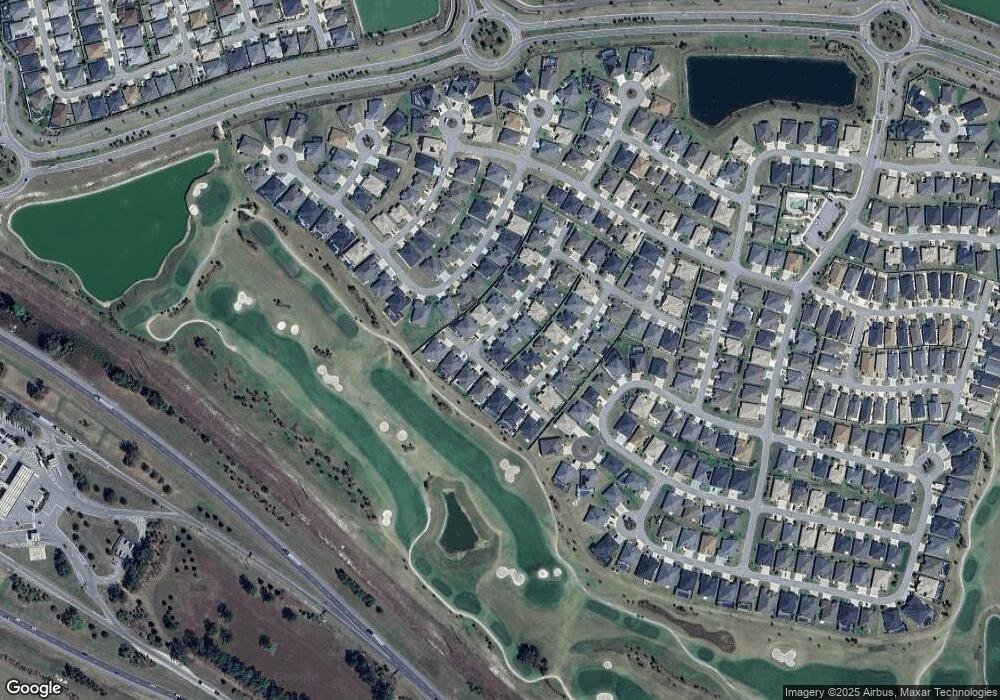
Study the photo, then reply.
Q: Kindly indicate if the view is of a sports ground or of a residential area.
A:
residential area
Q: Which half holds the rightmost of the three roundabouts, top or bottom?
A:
top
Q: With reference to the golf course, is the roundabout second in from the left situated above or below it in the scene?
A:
above it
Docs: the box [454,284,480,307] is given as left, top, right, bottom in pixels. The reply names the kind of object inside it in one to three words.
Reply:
house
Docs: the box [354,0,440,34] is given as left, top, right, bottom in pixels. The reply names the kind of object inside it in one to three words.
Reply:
pond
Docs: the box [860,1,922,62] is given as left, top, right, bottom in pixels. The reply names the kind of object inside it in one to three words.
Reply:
roundabout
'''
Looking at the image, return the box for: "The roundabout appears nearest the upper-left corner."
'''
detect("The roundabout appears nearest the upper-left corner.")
[0,135,31,199]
